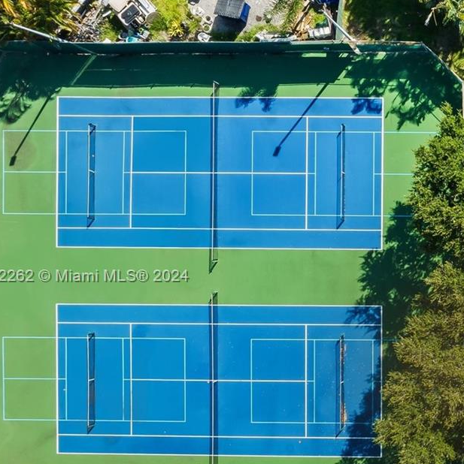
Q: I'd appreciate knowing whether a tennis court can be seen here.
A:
Yes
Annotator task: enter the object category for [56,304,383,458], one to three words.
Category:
tennis court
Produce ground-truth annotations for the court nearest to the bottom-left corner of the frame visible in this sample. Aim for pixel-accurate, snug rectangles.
[2,337,187,422]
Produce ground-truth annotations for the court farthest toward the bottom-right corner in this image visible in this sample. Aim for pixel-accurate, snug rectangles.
[249,338,433,424]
